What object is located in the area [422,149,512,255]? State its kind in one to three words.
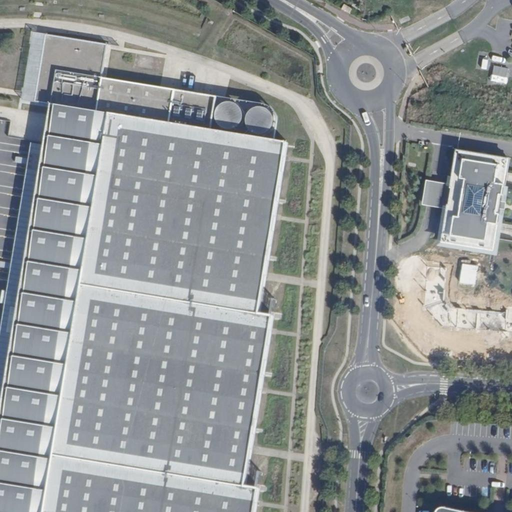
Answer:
building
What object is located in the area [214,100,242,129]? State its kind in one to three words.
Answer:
storage tank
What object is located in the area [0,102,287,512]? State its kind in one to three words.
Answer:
warehouse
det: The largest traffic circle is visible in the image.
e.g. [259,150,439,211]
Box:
[350,55,385,90]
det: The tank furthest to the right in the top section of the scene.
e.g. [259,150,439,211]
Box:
[245,104,273,132]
